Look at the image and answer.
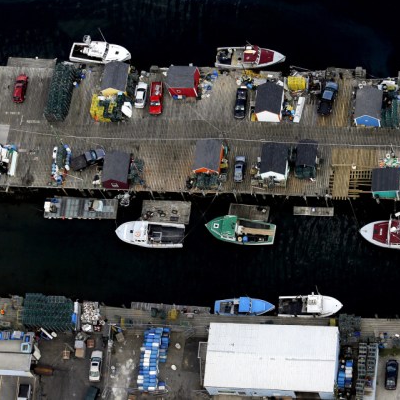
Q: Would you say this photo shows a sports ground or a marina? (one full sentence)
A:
What you see here is a marina.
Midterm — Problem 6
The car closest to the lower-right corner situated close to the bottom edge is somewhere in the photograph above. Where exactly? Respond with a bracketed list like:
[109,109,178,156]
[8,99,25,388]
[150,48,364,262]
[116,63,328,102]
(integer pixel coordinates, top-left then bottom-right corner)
[384,359,399,391]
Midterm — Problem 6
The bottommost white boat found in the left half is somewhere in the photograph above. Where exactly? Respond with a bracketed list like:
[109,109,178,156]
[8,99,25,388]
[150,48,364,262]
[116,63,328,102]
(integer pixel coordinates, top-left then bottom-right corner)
[115,218,187,248]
